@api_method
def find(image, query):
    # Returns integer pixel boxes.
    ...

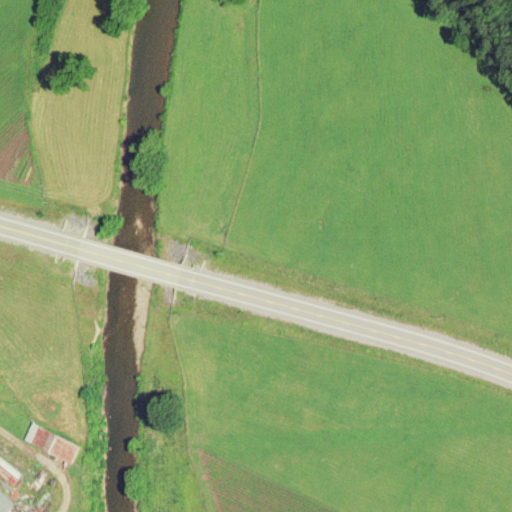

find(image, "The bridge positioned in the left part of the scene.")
[78,238,179,287]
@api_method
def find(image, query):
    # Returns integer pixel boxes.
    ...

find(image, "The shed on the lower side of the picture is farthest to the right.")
[47,436,80,466]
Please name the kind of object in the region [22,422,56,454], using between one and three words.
barn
